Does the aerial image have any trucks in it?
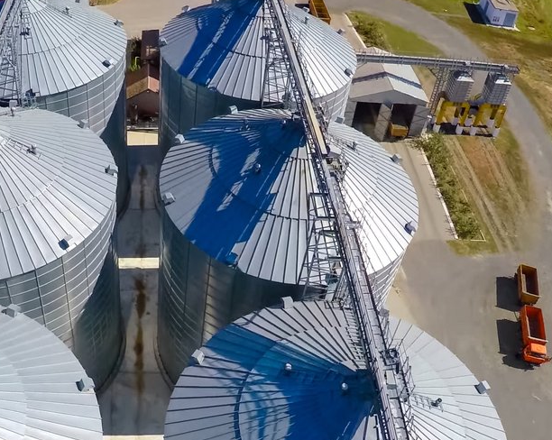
Yes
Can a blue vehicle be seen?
No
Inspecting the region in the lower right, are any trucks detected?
Yes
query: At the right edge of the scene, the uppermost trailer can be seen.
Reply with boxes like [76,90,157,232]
[509,261,538,308]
